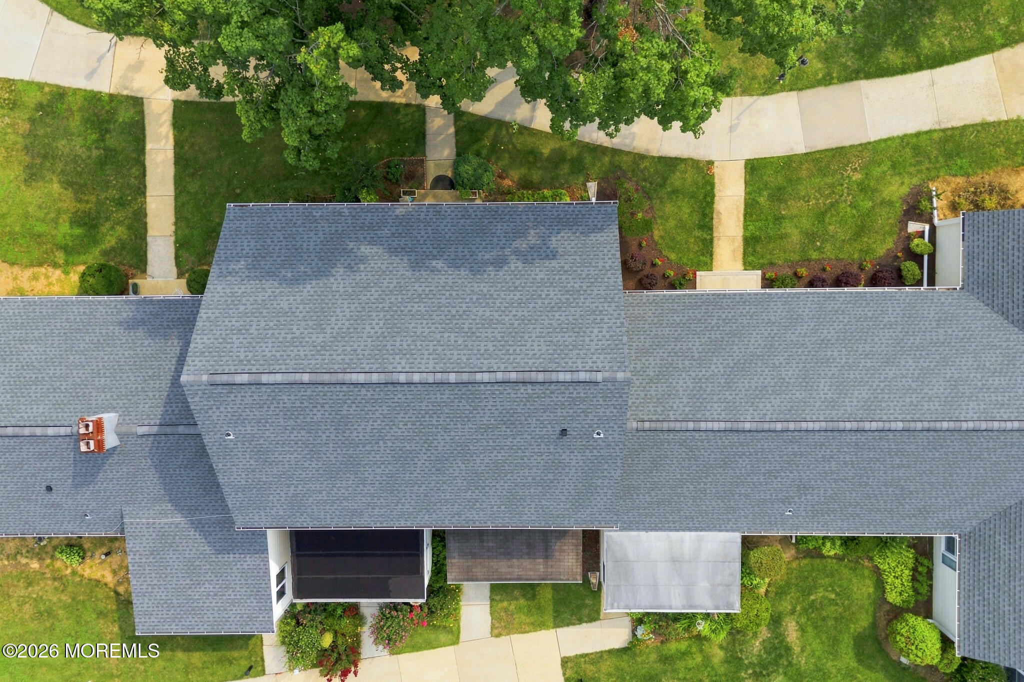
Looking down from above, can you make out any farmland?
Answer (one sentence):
No, no farmland is visible.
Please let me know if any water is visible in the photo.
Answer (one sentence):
No, the picture contains no water.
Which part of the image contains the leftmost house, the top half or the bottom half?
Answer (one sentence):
You can find the leftmost house in the bottom half.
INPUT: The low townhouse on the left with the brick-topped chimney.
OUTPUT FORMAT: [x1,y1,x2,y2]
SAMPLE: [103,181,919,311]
[0,295,294,636]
